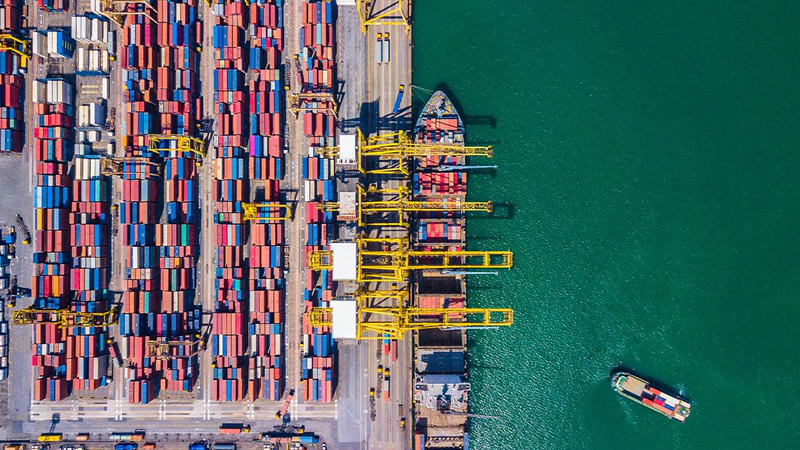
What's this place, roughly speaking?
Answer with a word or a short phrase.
port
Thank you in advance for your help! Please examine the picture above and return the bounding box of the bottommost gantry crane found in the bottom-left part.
[149,333,205,359]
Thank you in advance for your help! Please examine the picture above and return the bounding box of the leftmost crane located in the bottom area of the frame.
[10,302,71,328]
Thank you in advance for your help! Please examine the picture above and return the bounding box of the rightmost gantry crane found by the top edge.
[337,0,409,37]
